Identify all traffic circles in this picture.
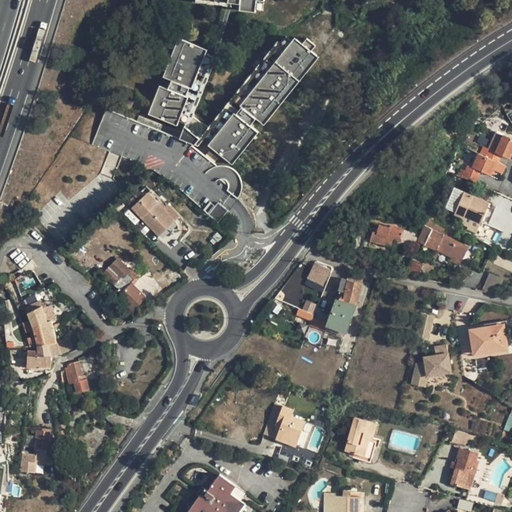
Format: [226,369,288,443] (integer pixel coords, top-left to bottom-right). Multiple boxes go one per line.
[165,278,246,359]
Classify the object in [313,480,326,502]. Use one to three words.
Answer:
swimming pool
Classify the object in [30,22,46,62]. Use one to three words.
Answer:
vehicle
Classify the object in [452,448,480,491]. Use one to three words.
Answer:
house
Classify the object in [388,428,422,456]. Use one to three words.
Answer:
swimming pool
